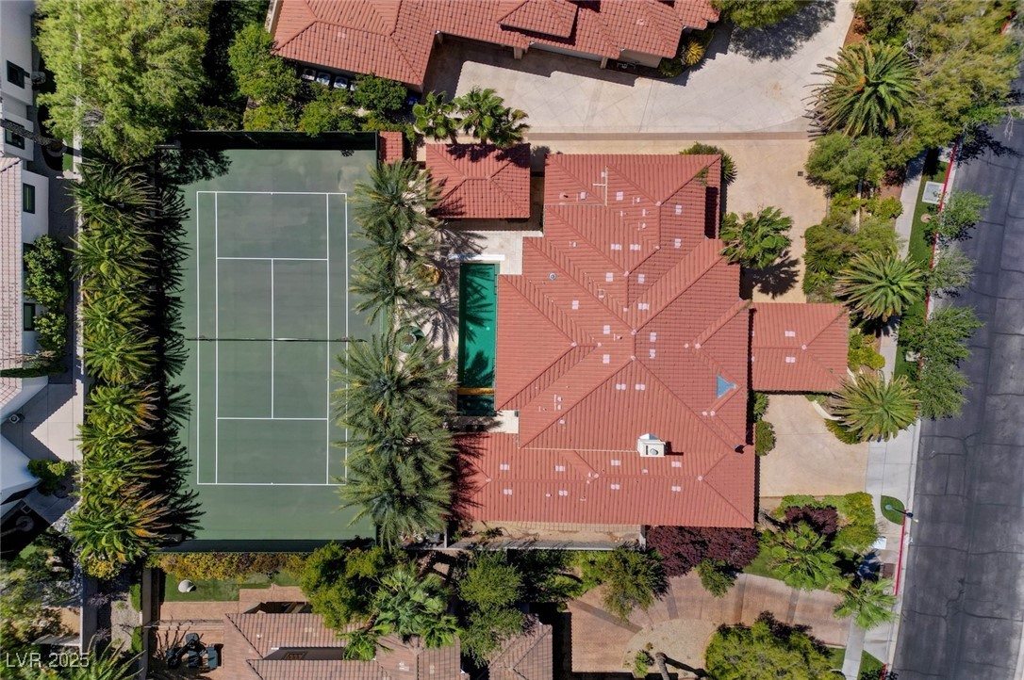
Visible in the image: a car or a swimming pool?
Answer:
swimming pool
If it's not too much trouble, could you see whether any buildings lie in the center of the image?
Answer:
Yes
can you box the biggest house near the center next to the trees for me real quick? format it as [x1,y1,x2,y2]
[454,151,756,528]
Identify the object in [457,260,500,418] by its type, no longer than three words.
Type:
swimming pool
